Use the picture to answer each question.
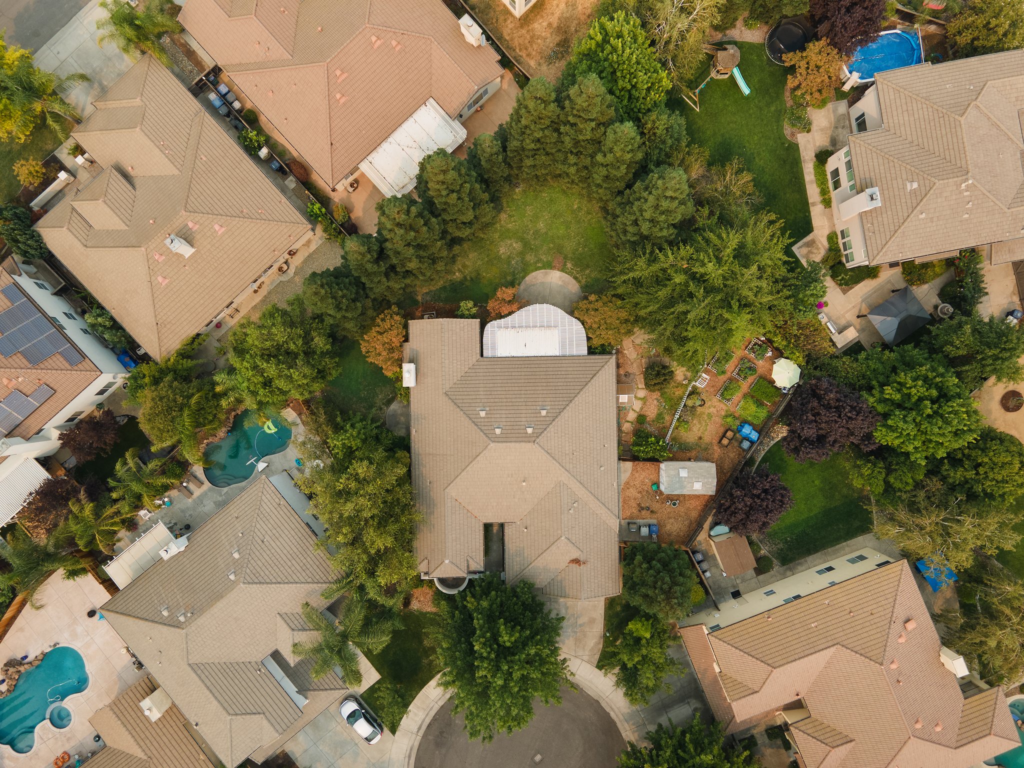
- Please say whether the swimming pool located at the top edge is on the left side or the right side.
right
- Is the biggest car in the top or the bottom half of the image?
bottom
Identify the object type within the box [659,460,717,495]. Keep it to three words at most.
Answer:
shed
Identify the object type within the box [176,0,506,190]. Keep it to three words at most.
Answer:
house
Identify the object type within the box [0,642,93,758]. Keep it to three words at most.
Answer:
swimming pool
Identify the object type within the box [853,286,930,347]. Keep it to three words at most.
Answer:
gazebo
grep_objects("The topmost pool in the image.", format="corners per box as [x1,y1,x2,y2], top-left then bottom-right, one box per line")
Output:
[839,28,922,90]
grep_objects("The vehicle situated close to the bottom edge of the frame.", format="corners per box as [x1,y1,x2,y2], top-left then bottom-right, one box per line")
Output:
[340,691,385,750]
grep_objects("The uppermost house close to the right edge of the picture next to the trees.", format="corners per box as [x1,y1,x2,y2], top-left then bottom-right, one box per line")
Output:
[822,42,1024,271]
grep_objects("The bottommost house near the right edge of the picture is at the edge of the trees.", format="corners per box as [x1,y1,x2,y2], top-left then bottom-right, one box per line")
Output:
[676,549,1023,768]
